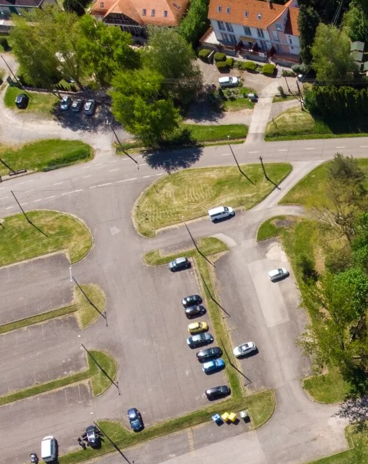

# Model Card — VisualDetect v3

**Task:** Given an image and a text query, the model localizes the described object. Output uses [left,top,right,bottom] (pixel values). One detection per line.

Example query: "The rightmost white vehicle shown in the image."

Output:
[264,265,293,282]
